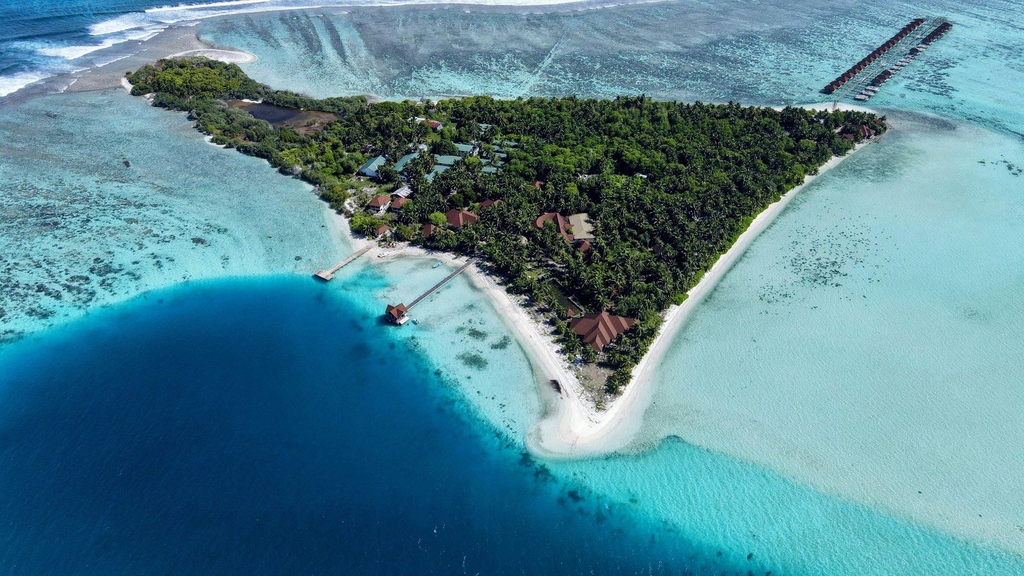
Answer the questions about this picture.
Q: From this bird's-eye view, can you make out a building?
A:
Yes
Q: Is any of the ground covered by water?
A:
Yes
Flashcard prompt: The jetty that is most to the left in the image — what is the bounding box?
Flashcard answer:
[309,240,378,284]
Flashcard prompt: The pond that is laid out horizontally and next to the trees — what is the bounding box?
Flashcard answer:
[229,99,337,134]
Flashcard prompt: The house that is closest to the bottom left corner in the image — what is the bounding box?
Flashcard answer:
[381,300,411,329]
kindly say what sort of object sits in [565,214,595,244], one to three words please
building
